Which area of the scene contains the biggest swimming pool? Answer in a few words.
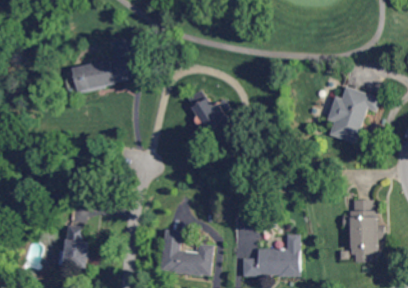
bottom left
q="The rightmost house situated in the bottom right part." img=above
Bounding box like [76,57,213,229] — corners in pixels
[349,196,386,264]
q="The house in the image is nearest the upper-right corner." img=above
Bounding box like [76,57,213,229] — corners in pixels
[324,84,378,140]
